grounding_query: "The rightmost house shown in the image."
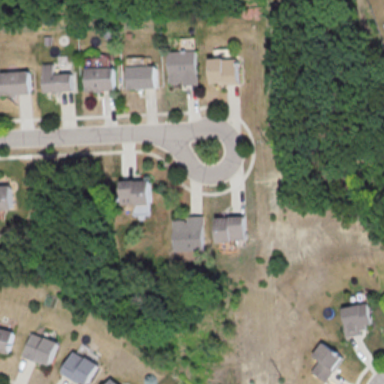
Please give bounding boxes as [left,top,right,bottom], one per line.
[342,304,372,340]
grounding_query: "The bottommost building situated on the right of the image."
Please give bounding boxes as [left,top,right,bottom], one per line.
[308,341,343,382]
